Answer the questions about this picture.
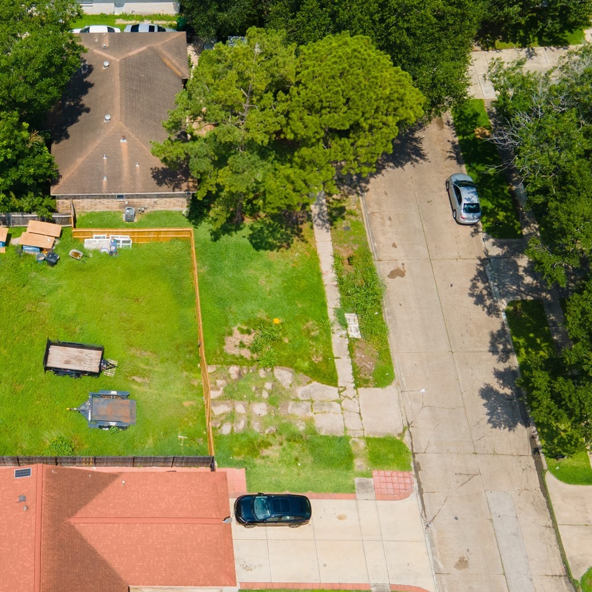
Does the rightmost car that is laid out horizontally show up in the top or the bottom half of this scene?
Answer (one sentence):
Seen from above, the rightmost car that is laid out horizontally lies in the bottom half of the view.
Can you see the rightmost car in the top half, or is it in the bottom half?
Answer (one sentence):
It is in the top half that the rightmost car appears.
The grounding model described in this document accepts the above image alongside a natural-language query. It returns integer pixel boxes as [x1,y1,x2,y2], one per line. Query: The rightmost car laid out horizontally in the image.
[233,491,313,530]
